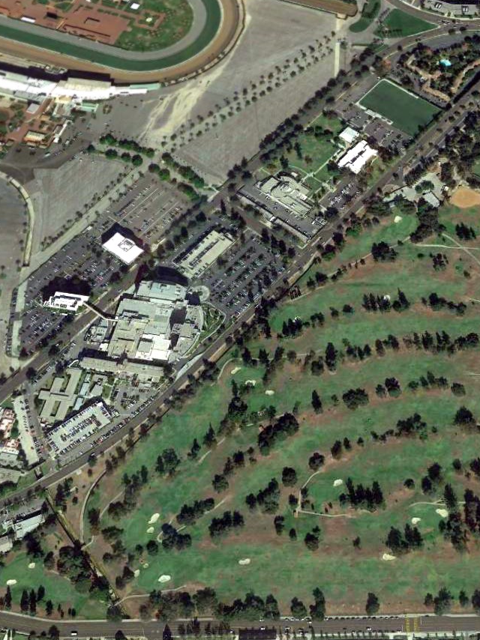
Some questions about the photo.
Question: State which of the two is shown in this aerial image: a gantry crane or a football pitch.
football pitch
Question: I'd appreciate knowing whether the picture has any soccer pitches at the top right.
Yes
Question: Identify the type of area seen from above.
golf course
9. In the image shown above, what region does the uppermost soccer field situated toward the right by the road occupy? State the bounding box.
[358,78,444,137]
